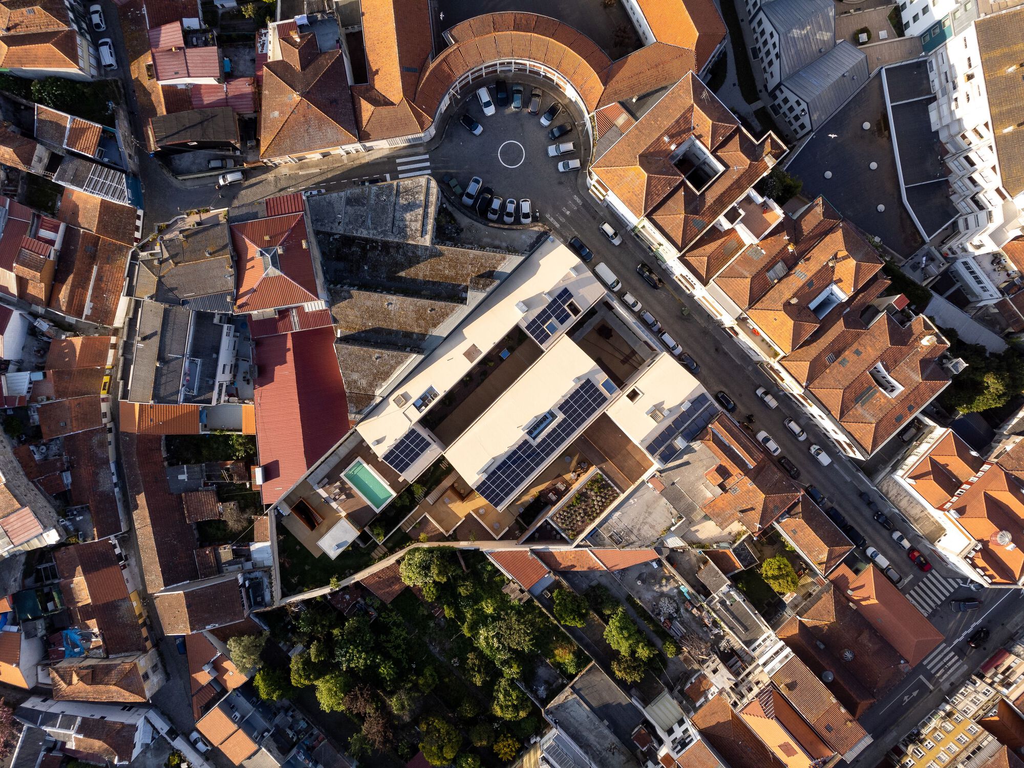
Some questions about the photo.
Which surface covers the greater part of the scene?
buildings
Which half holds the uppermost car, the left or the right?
left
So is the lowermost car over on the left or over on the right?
left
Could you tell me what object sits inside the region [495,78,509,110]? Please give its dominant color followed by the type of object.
black car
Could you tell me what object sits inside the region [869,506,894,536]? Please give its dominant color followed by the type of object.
black car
